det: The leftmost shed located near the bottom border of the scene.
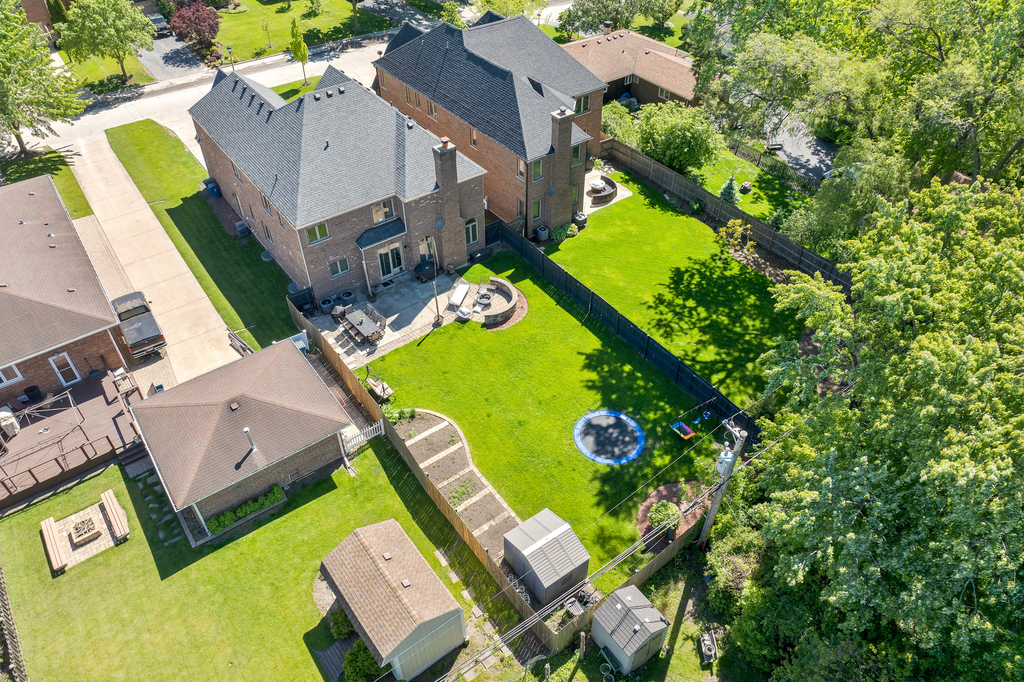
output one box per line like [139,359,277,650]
[319,519,466,675]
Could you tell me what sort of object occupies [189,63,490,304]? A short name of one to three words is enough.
house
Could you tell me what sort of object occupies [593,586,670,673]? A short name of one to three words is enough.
shed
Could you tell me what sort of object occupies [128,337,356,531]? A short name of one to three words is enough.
building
